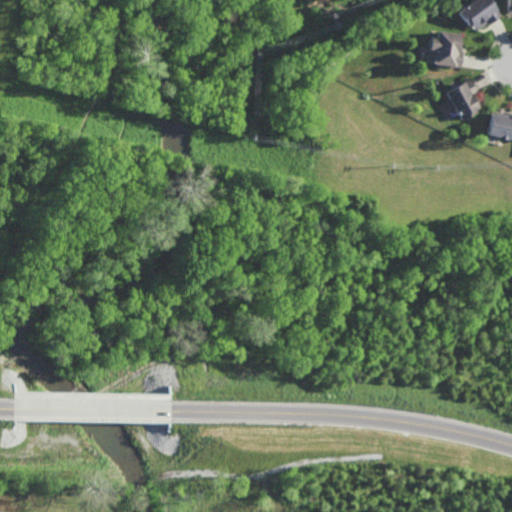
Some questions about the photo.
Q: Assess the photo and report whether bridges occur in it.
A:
Yes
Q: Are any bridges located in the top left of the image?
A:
No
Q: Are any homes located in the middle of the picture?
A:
No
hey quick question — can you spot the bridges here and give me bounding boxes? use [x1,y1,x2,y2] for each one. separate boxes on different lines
[13,386,172,430]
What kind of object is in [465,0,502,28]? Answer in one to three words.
house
